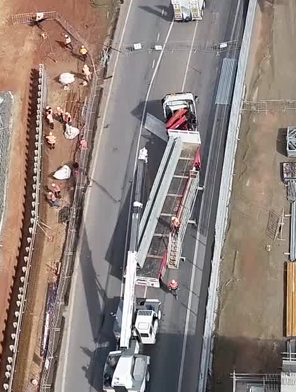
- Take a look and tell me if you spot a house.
No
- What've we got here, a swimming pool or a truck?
truck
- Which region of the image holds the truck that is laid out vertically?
center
